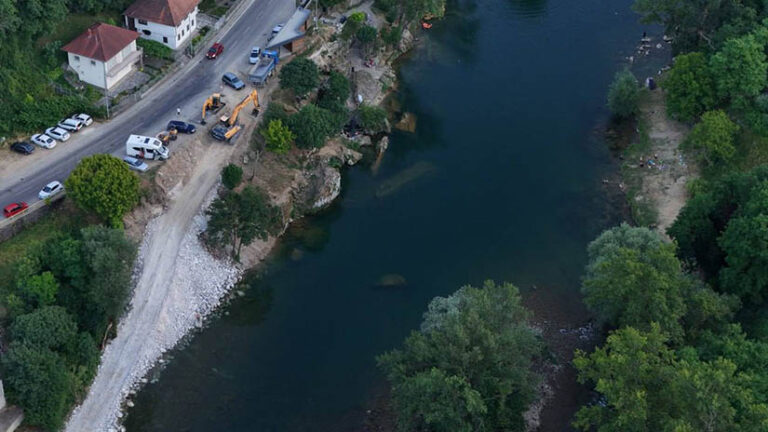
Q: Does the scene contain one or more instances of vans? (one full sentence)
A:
Yes, the picture does show a van.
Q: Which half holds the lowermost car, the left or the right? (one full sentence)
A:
You can find the lowermost car on the left side of the picture.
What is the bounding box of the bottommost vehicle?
[0,195,32,215]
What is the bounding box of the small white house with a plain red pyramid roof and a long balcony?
[59,21,150,87]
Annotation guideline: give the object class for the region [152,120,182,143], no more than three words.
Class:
truck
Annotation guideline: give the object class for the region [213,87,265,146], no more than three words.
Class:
work vehicle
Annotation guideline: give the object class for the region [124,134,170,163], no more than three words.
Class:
van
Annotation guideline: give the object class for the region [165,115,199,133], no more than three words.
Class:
car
